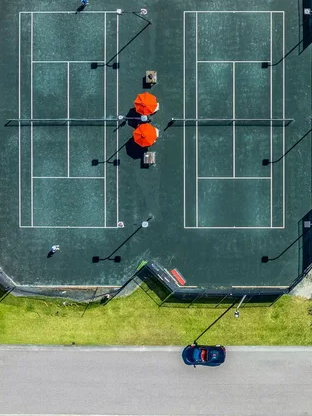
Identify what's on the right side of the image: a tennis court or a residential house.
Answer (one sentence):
The one visible on the right side of the image is a tennis court.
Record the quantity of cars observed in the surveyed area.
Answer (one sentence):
In total, there is 1 car in the scene.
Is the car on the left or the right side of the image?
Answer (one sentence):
The car appears in the right half of the scene.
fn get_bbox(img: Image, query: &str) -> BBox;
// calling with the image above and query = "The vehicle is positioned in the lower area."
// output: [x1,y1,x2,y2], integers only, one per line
[185,349,224,370]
